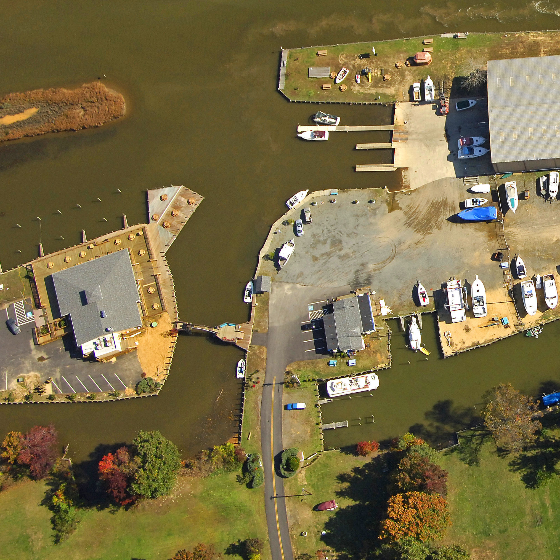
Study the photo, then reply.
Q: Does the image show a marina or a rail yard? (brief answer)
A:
marina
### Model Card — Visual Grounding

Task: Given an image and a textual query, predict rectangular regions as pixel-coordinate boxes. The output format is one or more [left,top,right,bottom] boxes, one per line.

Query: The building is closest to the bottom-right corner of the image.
[324,288,380,358]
